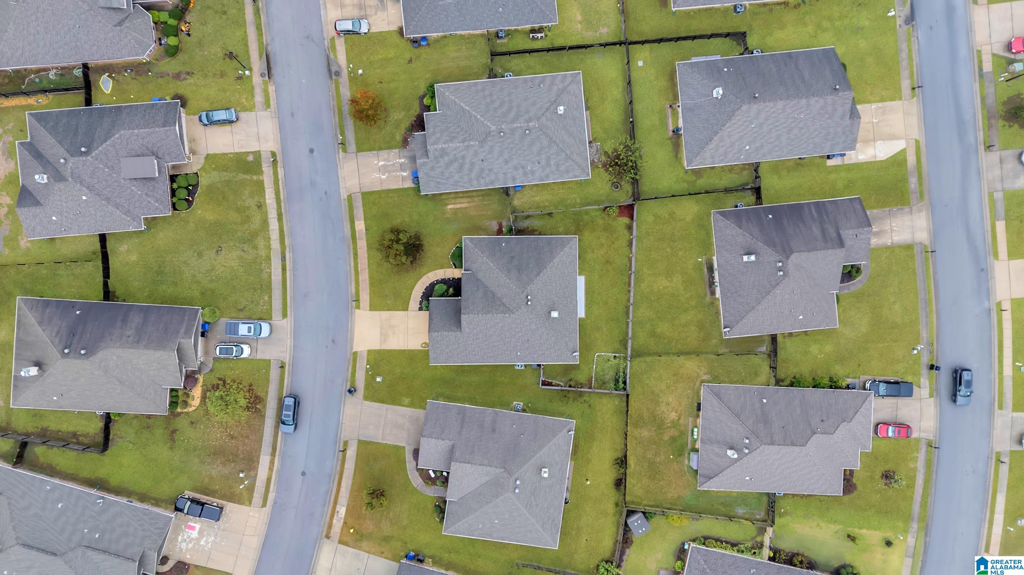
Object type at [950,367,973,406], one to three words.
car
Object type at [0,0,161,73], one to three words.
house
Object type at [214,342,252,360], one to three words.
car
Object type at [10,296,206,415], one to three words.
house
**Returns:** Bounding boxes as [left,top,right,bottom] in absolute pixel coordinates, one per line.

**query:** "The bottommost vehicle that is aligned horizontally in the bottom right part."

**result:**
[874,422,914,441]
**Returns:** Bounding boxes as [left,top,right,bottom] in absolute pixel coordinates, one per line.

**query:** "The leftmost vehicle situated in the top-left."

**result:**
[199,107,240,127]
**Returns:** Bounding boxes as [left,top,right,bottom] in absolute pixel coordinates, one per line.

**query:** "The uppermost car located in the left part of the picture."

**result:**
[334,16,370,36]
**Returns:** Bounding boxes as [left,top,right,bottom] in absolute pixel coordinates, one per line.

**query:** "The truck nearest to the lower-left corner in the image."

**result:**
[175,494,225,524]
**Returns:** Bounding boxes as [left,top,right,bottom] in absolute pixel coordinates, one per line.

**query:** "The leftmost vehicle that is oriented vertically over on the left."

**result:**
[280,394,301,434]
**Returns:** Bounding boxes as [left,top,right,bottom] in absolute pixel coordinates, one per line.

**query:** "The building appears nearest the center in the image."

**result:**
[428,235,579,366]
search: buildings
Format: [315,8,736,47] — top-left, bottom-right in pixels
[709,195,872,339]
[10,296,206,415]
[417,400,576,550]
[669,0,803,14]
[428,235,579,366]
[696,383,875,496]
[15,99,192,240]
[680,540,837,575]
[401,0,559,40]
[0,0,161,73]
[625,512,650,537]
[0,460,179,575]
[675,45,861,169]
[414,70,592,195]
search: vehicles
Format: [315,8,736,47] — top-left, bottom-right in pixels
[334,16,370,36]
[199,107,240,127]
[224,320,272,339]
[175,494,225,524]
[950,367,973,406]
[874,422,914,441]
[864,379,914,399]
[214,342,252,360]
[1007,36,1024,54]
[280,394,301,434]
